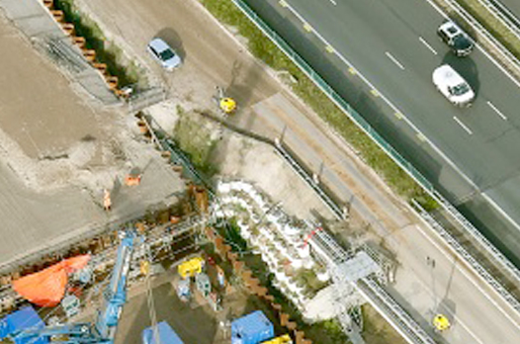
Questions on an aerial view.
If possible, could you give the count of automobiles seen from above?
3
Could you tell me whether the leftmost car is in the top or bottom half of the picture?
top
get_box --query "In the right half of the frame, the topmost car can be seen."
[437,20,476,58]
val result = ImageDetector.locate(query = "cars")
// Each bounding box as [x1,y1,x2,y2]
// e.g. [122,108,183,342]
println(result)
[145,37,181,72]
[432,66,475,107]
[437,20,476,58]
